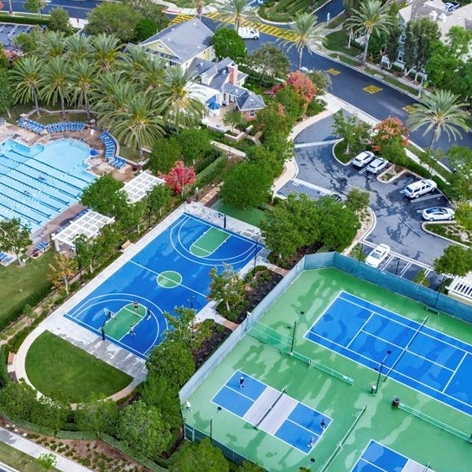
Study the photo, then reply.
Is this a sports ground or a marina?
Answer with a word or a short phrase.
sports ground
